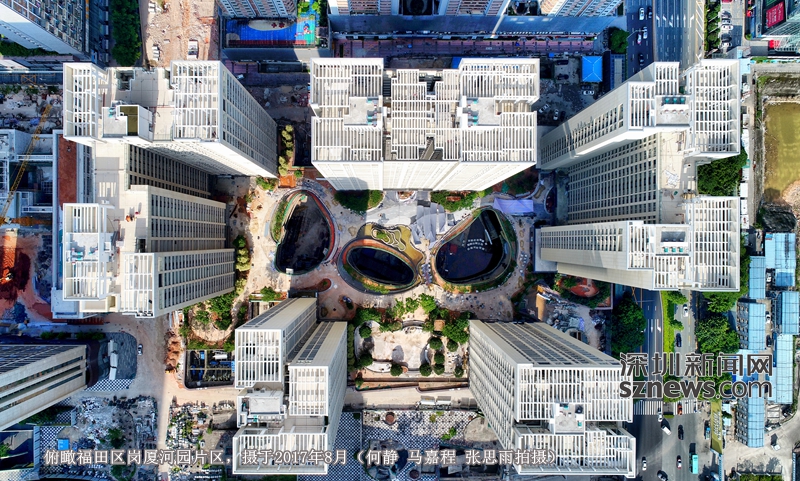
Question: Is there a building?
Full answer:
Yes, this view includes a building.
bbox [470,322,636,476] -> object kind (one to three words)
building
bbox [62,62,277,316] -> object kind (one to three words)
building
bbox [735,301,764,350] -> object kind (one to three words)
shed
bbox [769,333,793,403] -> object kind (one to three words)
shed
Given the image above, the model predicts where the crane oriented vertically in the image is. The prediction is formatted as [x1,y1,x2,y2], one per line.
[0,100,65,226]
